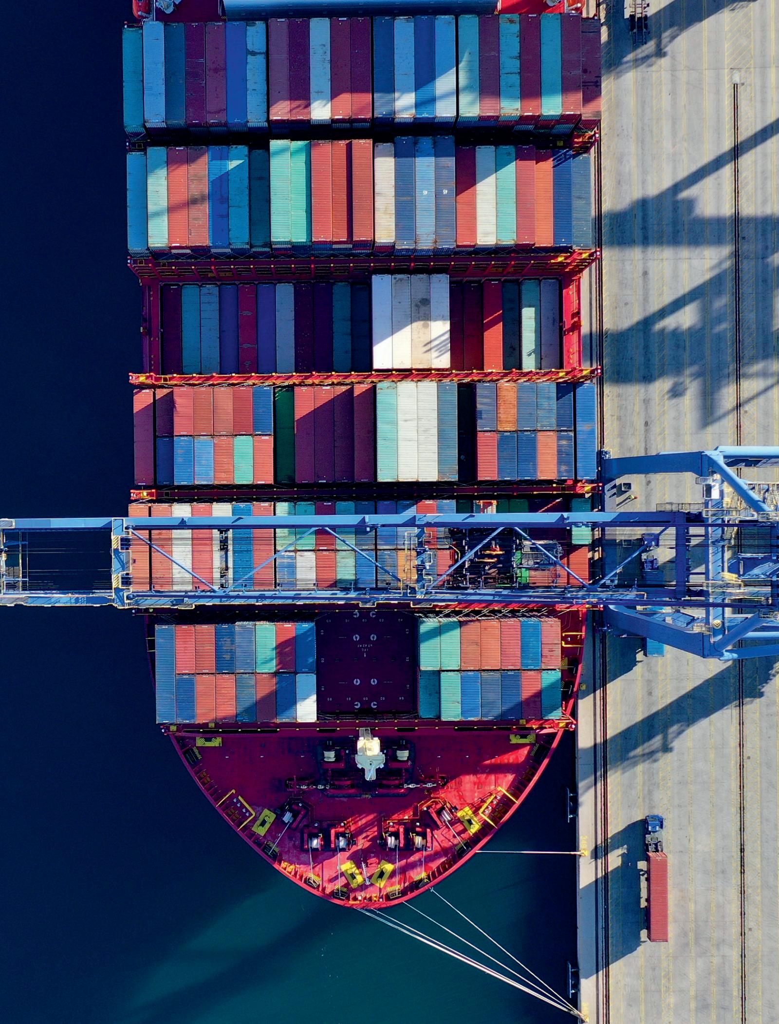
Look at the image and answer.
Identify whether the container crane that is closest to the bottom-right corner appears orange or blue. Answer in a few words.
blue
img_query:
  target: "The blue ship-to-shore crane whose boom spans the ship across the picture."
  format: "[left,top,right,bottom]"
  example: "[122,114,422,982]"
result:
[0,438,779,663]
